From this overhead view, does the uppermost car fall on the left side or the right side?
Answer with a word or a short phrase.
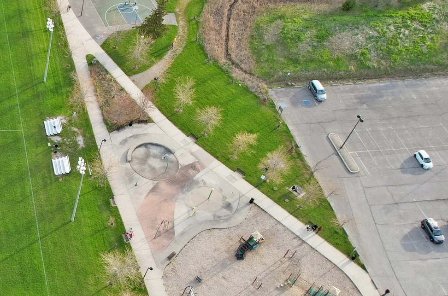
right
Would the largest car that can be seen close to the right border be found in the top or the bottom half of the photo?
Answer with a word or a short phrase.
bottom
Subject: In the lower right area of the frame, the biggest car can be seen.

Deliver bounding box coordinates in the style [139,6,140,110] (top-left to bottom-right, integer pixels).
[423,218,447,244]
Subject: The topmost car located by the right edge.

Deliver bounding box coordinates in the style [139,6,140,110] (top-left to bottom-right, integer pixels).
[414,151,436,170]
